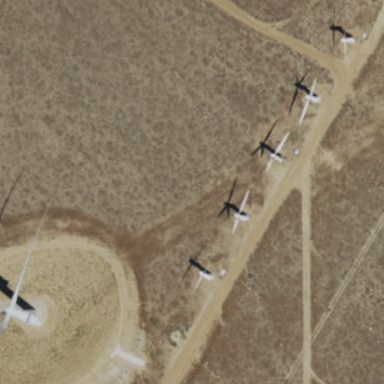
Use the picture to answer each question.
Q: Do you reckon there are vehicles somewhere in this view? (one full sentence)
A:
No, I find no vehicle anywhere in the image.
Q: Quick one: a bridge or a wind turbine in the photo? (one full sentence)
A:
The one in the frame is a wind turbine.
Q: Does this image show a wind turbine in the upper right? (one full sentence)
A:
Yes, looking in the upper right, one can make out a wind turbine.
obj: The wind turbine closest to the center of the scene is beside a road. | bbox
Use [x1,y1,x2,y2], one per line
[230,190,252,234]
